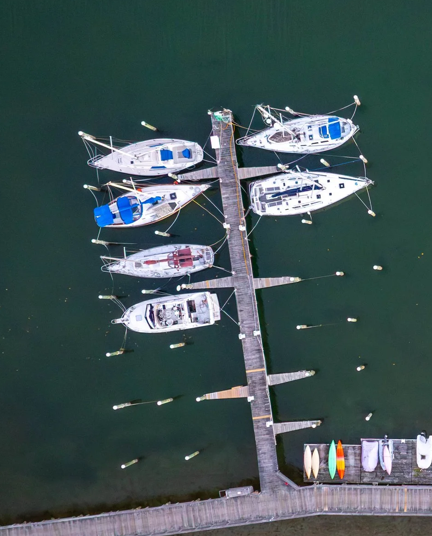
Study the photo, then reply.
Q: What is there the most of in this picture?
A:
water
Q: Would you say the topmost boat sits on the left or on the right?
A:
right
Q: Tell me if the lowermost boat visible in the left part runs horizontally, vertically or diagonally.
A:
horizontally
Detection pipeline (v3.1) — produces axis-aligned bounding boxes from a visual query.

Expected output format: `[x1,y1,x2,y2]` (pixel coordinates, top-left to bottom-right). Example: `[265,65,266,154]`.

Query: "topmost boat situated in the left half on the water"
[81,132,204,176]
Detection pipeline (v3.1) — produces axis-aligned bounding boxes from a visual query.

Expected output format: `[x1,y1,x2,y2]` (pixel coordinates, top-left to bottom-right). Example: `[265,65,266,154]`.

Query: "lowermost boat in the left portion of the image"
[111,292,221,333]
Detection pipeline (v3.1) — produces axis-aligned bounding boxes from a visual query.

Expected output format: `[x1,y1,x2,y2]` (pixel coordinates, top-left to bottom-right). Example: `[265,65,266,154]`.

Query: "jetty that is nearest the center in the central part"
[192,276,235,289]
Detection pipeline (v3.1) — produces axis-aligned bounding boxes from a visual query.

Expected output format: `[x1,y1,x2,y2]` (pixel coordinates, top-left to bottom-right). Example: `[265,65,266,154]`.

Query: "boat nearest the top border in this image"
[231,103,359,153]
